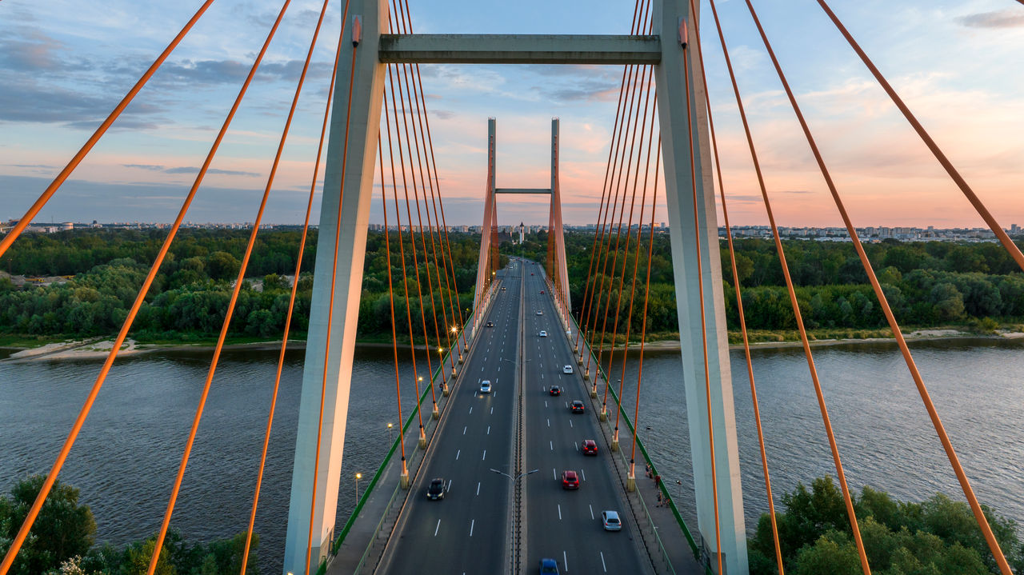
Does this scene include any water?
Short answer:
Yes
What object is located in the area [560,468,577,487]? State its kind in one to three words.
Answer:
car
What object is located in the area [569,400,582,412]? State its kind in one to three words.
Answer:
vehicle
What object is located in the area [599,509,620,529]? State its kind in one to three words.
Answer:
car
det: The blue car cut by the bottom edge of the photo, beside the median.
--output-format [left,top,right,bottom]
[537,555,559,575]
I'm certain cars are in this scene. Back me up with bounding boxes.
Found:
[537,555,559,575]
[560,468,577,487]
[599,509,620,529]
[480,378,491,391]
[549,384,559,394]
[563,364,572,373]
[580,438,596,454]
[569,400,582,412]
[539,330,547,336]
[487,321,493,327]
